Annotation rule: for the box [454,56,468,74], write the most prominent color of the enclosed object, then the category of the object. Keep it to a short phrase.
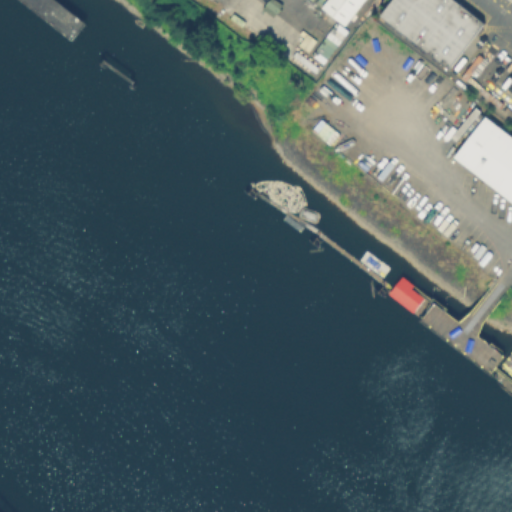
white vehicle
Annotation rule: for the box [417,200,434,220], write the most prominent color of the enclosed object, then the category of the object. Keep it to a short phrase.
white vehicle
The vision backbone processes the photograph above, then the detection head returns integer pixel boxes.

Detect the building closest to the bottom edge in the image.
[391,280,428,314]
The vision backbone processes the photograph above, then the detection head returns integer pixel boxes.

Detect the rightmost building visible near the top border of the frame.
[380,0,484,68]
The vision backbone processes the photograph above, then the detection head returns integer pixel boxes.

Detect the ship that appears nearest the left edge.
[14,0,84,42]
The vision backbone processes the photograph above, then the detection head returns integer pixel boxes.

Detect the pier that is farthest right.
[421,280,509,374]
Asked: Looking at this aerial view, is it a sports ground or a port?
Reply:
port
